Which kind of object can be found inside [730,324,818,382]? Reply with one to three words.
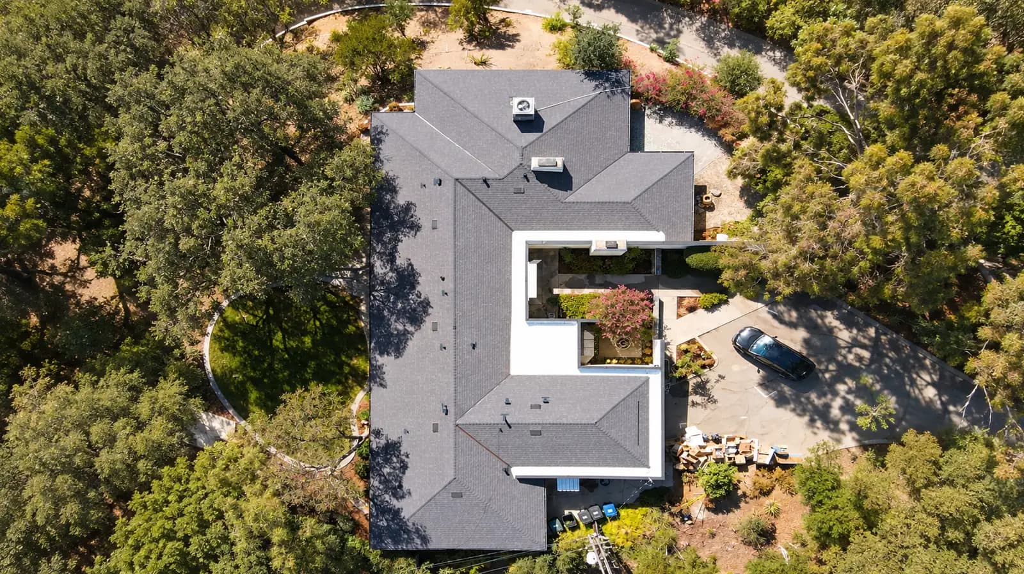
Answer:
car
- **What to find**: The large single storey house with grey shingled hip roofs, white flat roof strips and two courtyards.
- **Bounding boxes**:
[368,66,754,551]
